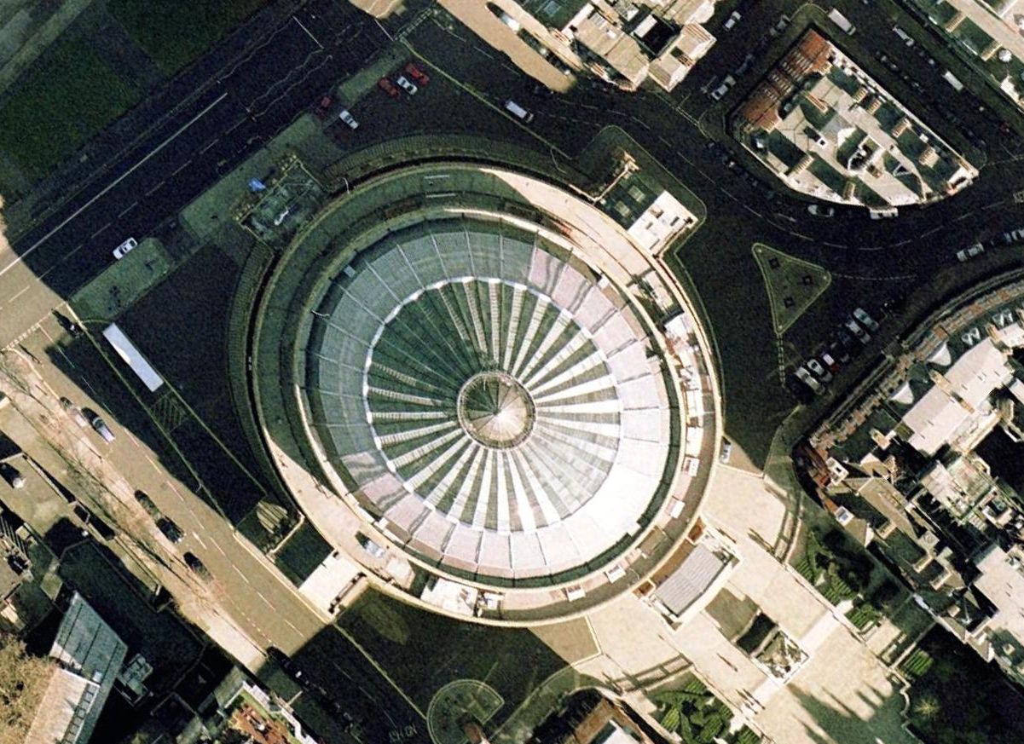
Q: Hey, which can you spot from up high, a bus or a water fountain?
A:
bus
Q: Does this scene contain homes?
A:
Yes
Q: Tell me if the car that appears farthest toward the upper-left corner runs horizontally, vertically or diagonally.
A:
diagonally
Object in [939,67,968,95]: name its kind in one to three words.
van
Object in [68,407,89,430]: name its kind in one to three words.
car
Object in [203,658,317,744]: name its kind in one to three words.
house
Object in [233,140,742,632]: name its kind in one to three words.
building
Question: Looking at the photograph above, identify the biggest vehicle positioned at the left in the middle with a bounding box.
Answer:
[100,320,168,393]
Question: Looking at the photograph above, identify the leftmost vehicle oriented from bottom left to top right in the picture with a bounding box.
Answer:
[112,237,139,259]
